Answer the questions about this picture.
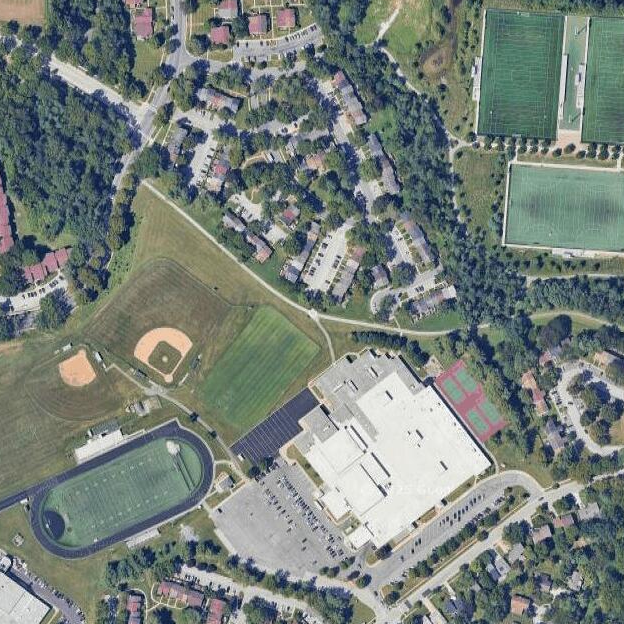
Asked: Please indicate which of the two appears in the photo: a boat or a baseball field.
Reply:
baseball field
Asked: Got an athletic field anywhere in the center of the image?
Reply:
Yes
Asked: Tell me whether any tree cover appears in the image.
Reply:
Yes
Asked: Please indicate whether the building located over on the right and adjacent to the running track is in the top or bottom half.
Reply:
bottom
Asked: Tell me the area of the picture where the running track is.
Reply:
bottom left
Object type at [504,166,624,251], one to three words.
sports field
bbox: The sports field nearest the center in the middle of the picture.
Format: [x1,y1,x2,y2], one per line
[200,305,320,426]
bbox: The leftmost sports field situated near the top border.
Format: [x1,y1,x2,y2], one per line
[478,11,563,141]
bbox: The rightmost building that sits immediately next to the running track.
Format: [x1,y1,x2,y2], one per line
[293,348,489,549]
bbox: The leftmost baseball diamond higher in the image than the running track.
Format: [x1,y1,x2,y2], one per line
[59,350,95,387]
